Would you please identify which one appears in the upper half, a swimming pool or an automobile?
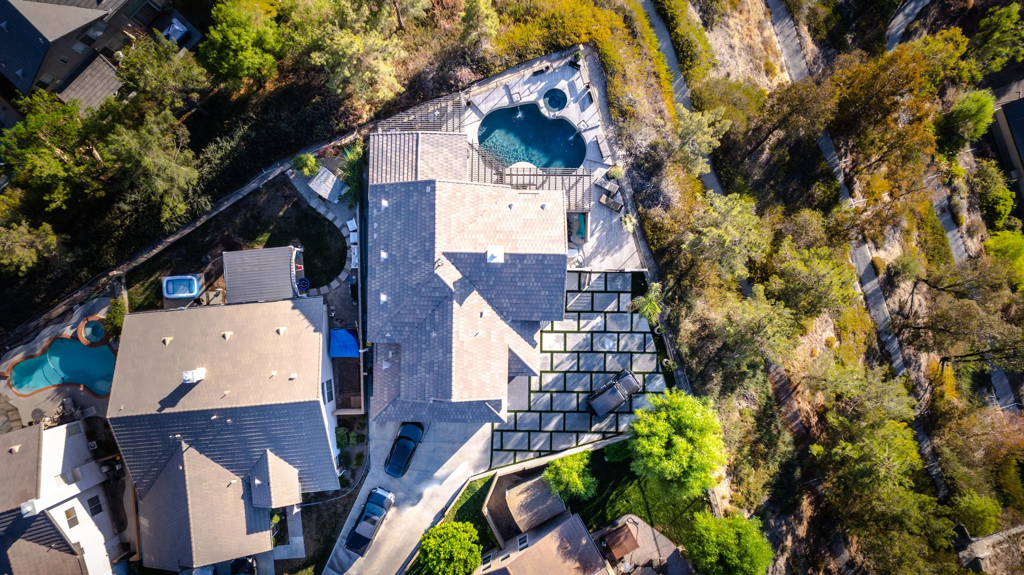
swimming pool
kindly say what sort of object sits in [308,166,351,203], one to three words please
shed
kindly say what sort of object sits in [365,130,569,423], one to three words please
house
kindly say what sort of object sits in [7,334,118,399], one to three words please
swimming pool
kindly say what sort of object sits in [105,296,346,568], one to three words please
house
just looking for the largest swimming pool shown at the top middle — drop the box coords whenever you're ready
[475,100,589,178]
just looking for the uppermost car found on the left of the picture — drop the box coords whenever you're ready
[383,423,422,483]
